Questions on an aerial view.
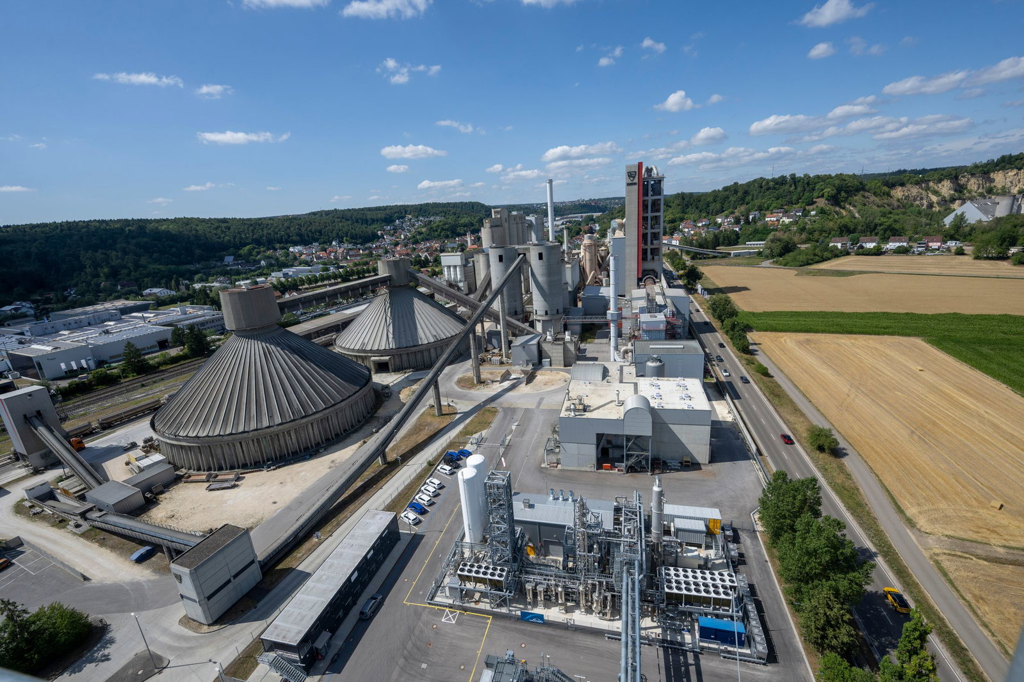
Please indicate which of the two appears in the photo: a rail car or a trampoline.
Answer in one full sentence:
The image shows a rail car.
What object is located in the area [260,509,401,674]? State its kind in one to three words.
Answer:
building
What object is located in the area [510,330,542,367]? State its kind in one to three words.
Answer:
house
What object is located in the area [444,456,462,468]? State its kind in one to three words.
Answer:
vehicle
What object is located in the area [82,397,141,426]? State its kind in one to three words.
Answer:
rail car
